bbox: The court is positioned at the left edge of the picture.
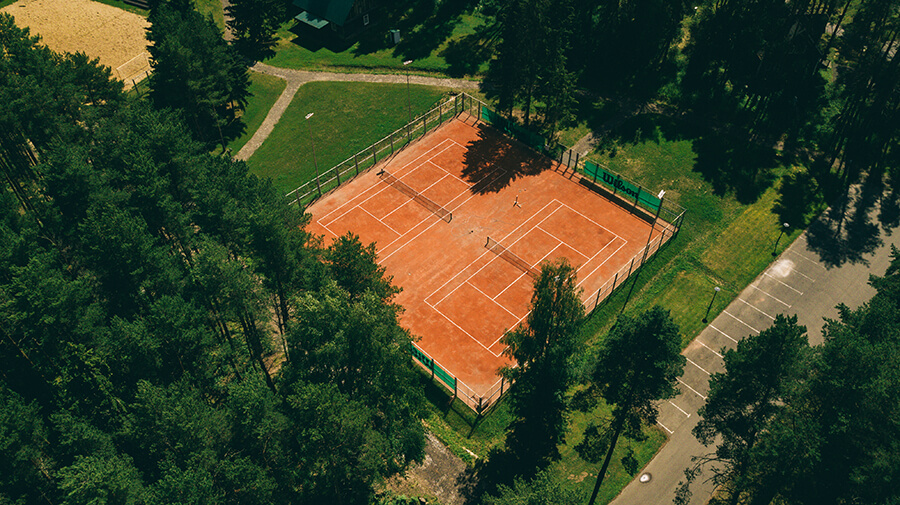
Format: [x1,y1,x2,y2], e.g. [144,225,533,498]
[0,0,152,103]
